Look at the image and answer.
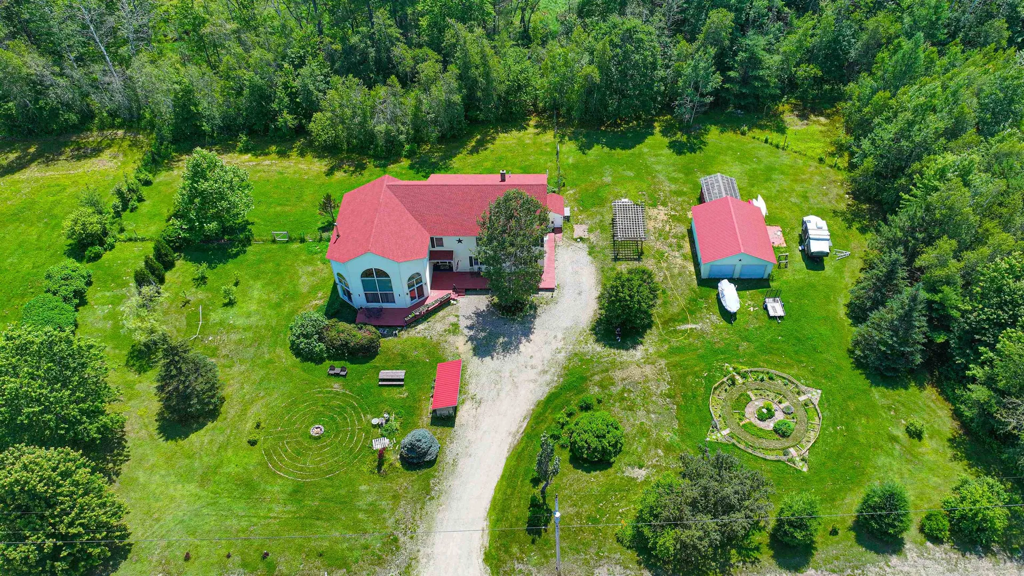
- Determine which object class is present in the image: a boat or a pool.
boat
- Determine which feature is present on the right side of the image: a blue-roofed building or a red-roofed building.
red-roofed building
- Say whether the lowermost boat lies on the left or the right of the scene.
right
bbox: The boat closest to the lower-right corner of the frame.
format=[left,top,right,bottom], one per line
[714,275,740,322]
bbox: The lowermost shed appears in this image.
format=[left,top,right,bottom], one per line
[433,359,462,416]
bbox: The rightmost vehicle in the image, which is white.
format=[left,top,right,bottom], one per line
[803,211,834,265]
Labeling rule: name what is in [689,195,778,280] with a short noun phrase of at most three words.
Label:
building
